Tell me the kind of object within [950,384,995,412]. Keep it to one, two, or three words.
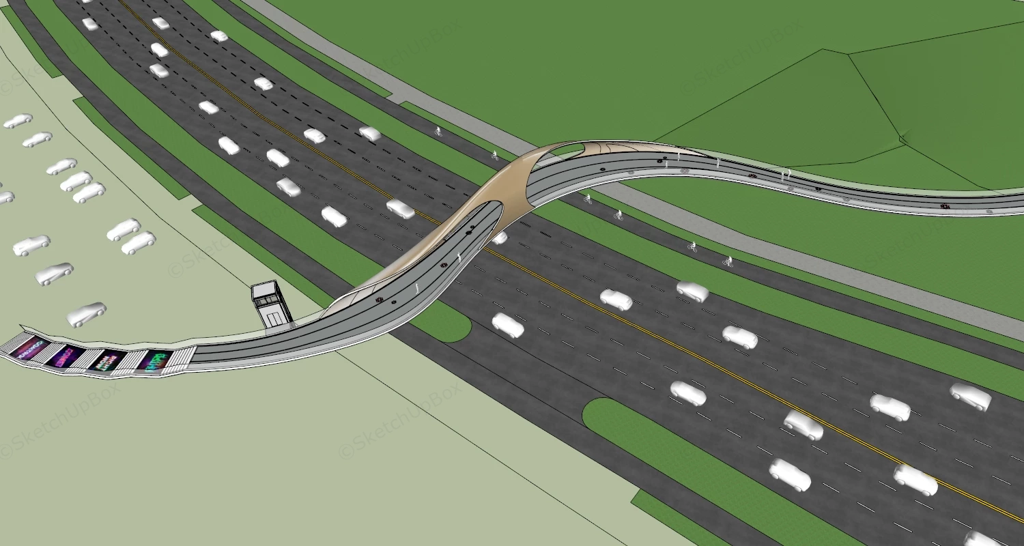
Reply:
vehicle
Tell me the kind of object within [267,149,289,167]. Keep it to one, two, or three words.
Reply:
car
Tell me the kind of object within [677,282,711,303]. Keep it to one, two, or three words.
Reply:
vehicle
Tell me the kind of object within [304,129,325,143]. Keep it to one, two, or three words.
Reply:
car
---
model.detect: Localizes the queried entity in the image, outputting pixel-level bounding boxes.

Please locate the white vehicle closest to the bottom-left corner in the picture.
[66,303,105,328]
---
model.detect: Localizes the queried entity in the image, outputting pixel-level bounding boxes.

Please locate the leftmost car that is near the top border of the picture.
[83,18,98,30]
